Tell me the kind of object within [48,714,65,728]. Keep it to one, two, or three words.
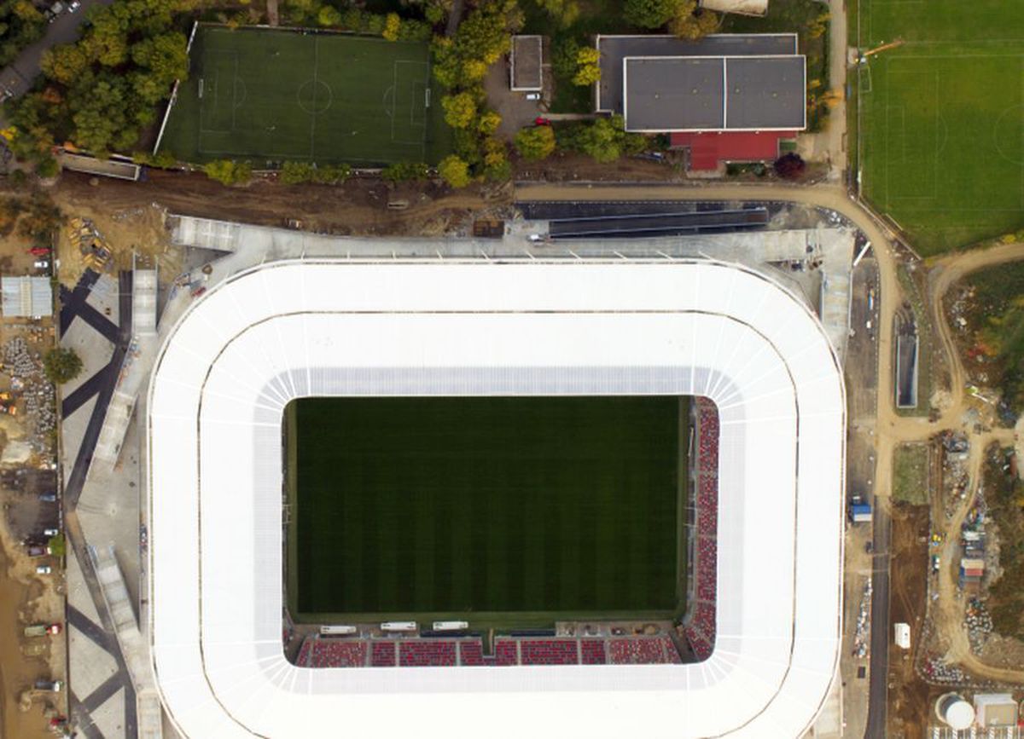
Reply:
work vehicle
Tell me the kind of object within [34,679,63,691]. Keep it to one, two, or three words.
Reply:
vehicle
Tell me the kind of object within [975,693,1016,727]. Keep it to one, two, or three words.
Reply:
building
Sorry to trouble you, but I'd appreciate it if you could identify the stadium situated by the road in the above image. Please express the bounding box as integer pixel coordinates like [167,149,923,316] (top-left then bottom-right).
[152,248,847,739]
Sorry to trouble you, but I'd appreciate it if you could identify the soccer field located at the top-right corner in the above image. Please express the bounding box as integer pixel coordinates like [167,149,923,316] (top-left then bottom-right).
[857,0,1024,258]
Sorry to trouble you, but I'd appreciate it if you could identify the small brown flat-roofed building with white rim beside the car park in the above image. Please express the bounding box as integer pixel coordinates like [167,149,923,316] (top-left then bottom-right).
[509,35,543,90]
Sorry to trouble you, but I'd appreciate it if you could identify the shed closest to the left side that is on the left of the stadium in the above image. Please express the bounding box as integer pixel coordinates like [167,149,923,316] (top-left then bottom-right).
[2,275,54,317]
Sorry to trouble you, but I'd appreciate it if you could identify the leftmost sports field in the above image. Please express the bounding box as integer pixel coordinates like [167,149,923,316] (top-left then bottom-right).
[157,24,455,172]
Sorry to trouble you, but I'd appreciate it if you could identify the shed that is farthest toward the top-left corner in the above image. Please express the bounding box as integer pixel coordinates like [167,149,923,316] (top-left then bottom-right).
[61,150,142,180]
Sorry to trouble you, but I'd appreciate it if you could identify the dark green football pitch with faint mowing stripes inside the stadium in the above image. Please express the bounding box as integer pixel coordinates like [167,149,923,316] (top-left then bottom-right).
[289,395,688,625]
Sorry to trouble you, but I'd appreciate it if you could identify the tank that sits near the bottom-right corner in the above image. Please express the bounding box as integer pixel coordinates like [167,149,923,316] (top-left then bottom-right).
[935,692,973,731]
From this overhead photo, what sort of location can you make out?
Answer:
sports ground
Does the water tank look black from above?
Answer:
No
